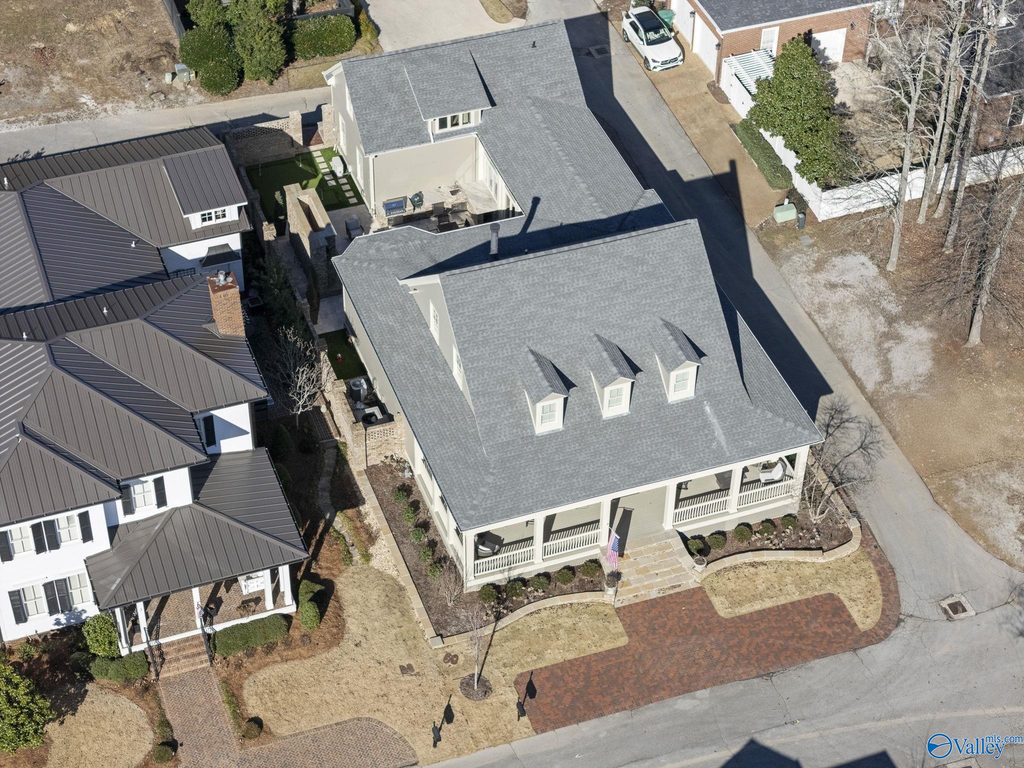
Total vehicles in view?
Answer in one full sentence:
The picture shows just 1 vehicle.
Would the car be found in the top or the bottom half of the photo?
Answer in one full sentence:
You can find the car in the top half.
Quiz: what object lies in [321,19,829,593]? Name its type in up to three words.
house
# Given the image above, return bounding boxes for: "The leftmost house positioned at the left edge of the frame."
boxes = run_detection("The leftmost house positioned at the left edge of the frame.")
[0,125,313,661]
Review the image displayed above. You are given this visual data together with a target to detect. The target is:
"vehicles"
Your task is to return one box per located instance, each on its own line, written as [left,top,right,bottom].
[625,6,687,73]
